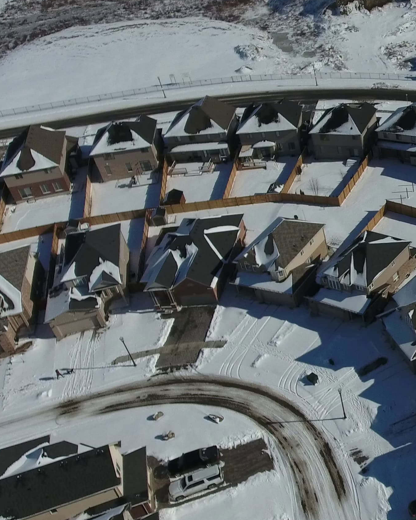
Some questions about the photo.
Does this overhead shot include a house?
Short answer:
Yes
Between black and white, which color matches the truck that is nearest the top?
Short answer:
black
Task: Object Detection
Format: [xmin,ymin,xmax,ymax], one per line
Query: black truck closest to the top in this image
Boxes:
[165,447,224,481]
